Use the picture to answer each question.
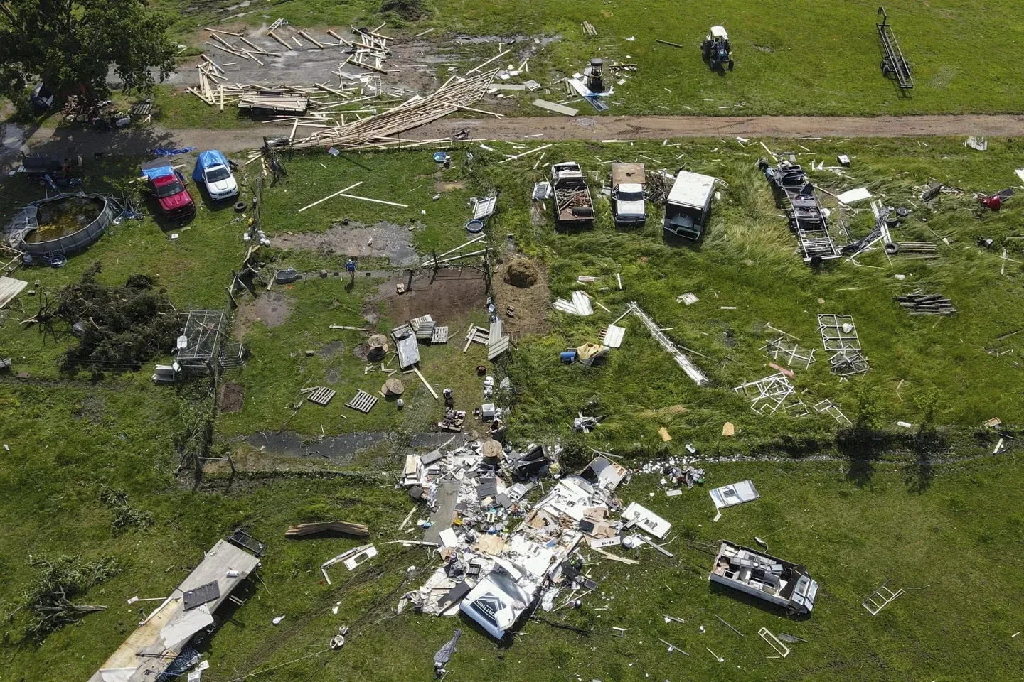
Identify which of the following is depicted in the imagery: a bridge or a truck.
truck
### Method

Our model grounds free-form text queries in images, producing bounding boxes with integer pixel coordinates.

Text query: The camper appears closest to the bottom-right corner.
[706,541,818,614]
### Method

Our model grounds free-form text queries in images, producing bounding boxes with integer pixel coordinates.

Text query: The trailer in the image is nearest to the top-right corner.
[880,1,923,80]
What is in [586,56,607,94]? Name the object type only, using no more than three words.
work vehicle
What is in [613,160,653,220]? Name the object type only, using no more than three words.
truck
